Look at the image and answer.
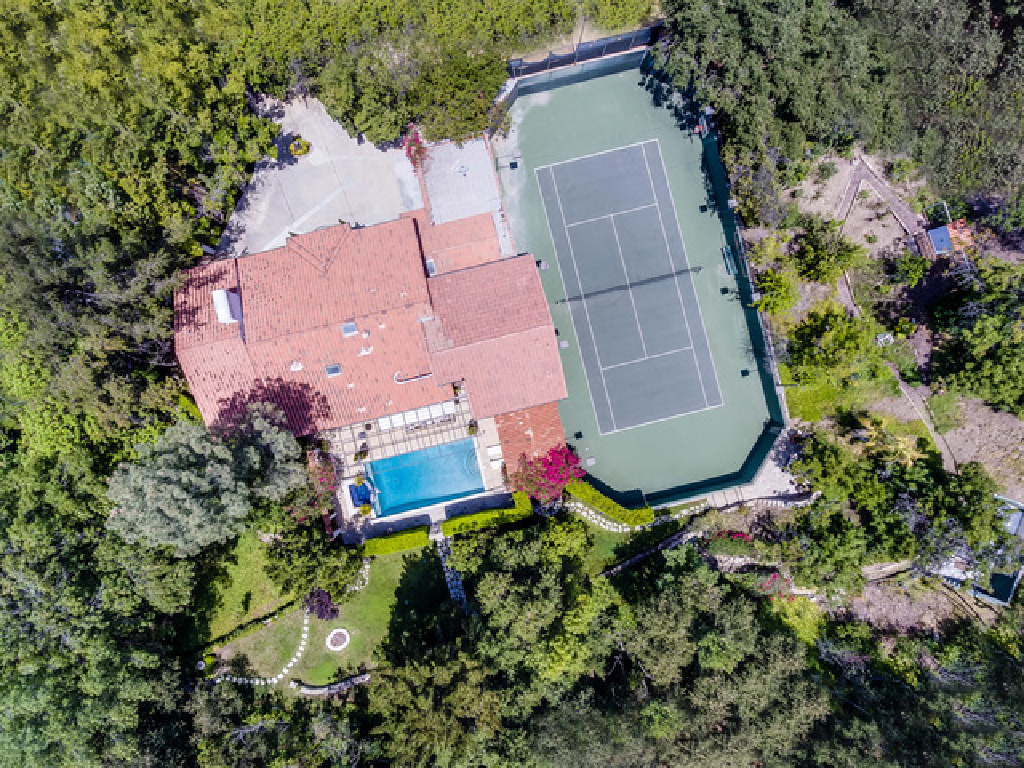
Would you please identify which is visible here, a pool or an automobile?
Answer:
pool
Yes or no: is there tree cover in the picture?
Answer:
Yes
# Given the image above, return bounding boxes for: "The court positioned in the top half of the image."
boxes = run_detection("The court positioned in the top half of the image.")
[492,67,770,502]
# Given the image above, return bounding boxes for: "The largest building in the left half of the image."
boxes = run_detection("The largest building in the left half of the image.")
[174,208,568,476]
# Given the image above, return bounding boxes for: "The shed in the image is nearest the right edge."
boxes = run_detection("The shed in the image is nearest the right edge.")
[992,505,1024,541]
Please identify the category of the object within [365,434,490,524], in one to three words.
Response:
swimming pool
